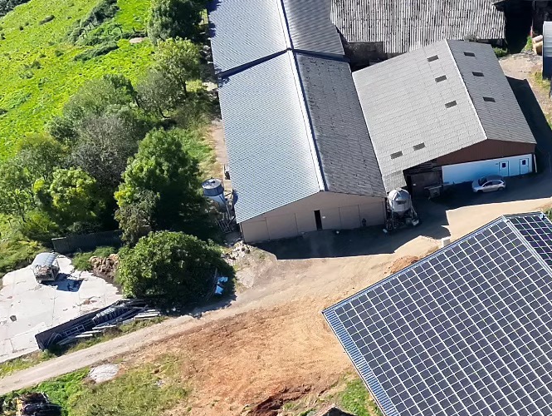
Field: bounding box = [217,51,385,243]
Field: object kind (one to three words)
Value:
barn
